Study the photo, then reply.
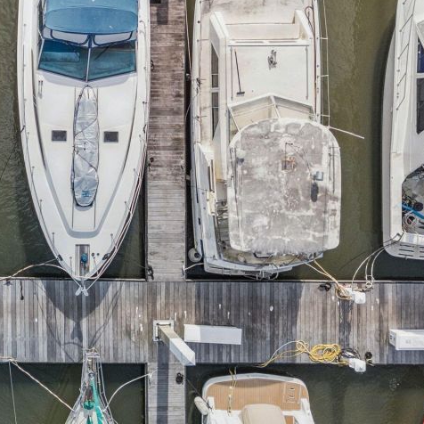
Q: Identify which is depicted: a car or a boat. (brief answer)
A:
boat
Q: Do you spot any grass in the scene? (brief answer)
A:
No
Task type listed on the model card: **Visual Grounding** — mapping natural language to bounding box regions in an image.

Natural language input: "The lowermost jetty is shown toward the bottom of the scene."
[144,365,187,424]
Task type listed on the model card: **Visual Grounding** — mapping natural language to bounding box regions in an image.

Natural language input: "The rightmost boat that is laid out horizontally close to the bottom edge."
[197,371,314,424]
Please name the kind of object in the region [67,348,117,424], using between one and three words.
boat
